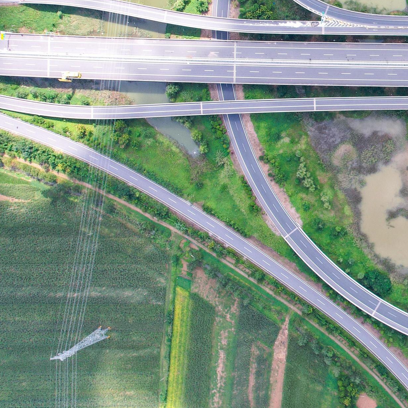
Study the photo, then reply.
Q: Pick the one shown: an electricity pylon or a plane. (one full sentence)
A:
I can see an electricity pylon in this picture.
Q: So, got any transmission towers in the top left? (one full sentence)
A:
No, looking in the top left, there is no transmission tower.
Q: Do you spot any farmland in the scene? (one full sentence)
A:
Yes, there is farmland in the image.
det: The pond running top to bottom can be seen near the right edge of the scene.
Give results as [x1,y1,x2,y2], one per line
[349,115,408,269]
